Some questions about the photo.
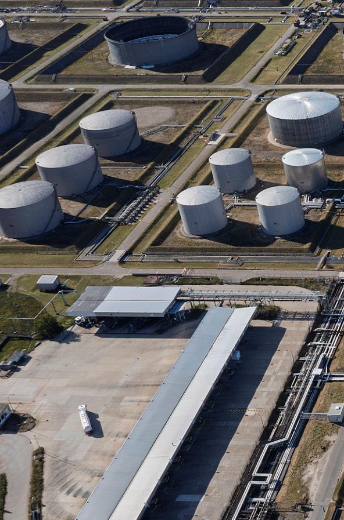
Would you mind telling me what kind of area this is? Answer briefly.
industrial area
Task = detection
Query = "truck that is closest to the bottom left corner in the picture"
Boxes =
[74,399,96,433]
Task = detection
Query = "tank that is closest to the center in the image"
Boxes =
[175,185,231,237]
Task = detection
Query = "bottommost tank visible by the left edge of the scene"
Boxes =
[0,181,67,241]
